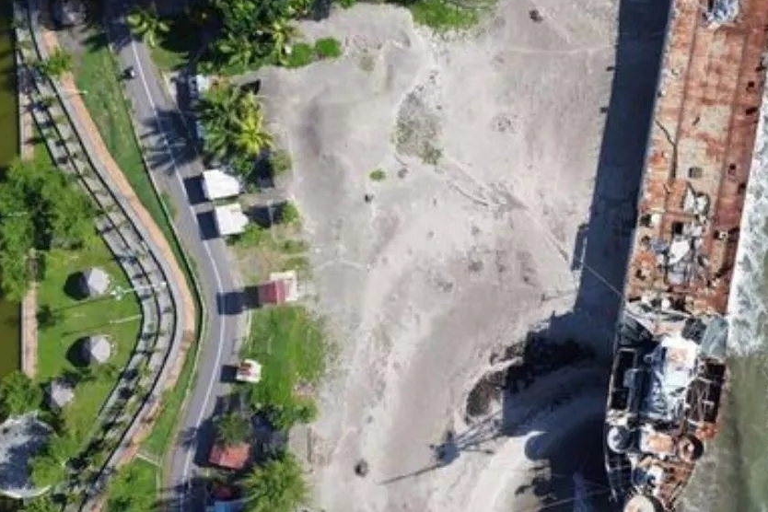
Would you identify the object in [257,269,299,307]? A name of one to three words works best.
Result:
shed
